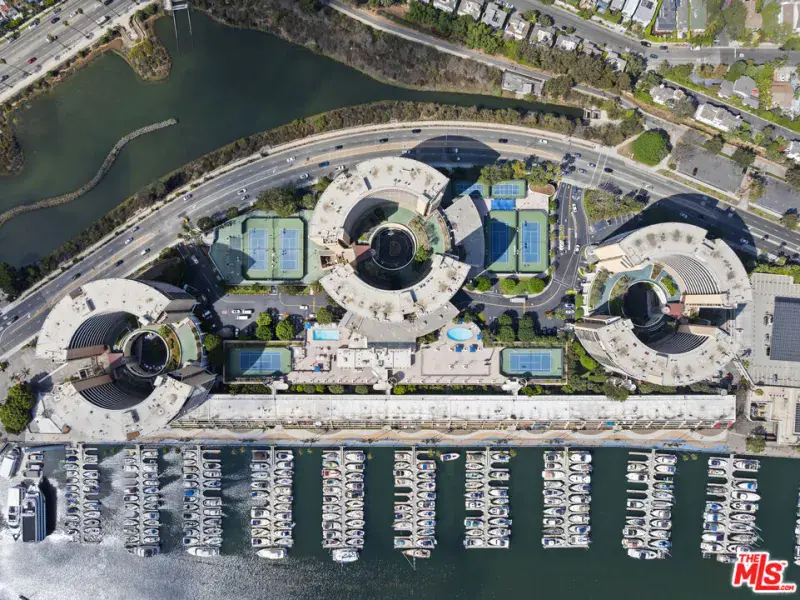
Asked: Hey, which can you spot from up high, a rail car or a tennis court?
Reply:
tennis court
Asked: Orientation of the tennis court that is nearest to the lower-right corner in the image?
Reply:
from left to right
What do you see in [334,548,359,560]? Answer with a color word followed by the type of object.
white boat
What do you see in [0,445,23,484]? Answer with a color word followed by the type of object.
white boat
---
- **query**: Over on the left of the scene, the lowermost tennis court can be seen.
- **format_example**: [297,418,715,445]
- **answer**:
[227,347,291,379]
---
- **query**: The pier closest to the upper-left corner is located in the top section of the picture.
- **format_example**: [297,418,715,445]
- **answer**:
[0,117,179,223]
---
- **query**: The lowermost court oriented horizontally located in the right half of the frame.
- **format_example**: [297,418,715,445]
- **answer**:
[501,348,565,379]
